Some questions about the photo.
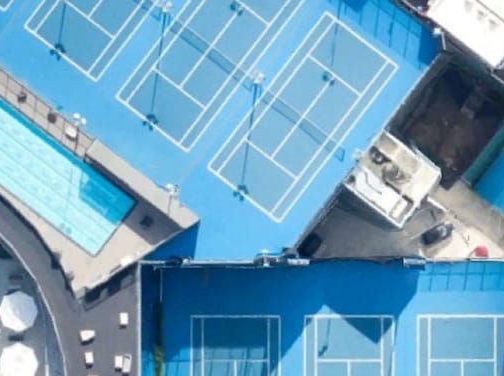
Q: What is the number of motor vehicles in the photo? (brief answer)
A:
two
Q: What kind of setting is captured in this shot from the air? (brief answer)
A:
sports ground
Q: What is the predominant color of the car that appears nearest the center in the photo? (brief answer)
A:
black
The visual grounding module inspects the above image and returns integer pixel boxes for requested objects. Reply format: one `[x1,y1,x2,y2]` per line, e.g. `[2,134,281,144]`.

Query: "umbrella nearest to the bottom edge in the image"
[0,344,38,376]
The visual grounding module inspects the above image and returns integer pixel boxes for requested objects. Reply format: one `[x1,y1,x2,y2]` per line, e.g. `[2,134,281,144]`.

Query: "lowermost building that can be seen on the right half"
[343,132,442,228]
